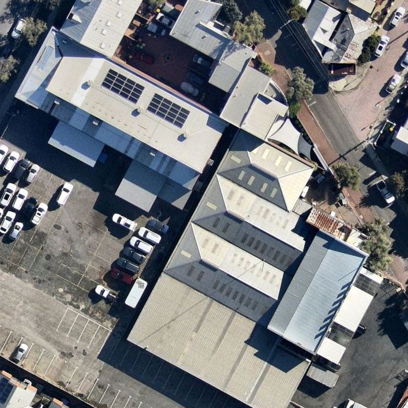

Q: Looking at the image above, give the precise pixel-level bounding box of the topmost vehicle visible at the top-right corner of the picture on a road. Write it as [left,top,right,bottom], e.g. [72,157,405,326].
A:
[390,5,406,27]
